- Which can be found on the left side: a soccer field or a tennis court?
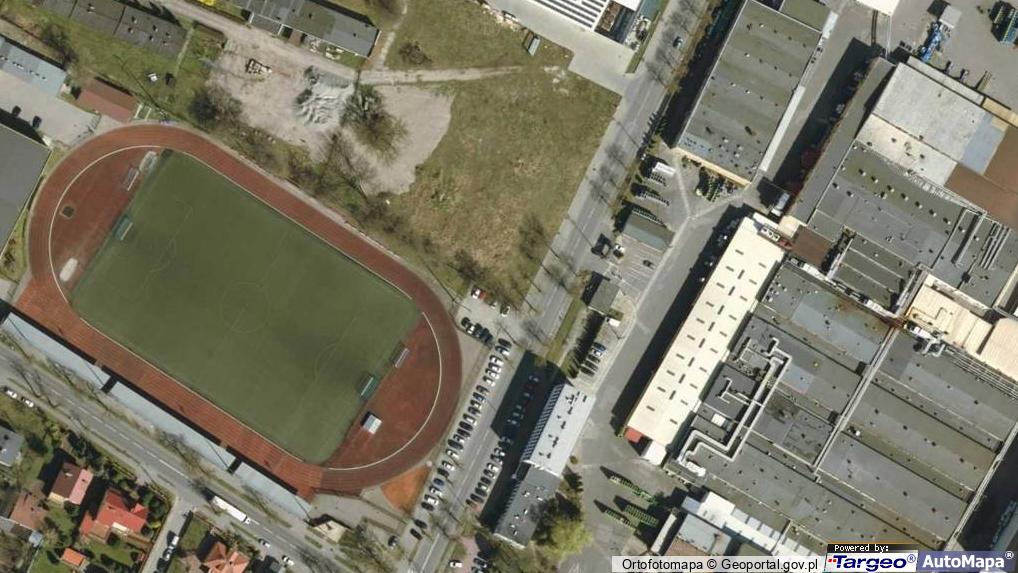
soccer field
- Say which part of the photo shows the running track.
left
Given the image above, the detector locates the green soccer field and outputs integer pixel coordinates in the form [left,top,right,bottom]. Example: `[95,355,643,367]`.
[72,148,420,465]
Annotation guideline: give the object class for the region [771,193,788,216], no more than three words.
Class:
vehicle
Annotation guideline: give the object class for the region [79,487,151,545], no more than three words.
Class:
house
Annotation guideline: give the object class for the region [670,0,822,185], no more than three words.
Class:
warehouse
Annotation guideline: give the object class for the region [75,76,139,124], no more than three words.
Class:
building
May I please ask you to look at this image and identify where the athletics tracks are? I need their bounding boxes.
[7,120,466,506]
